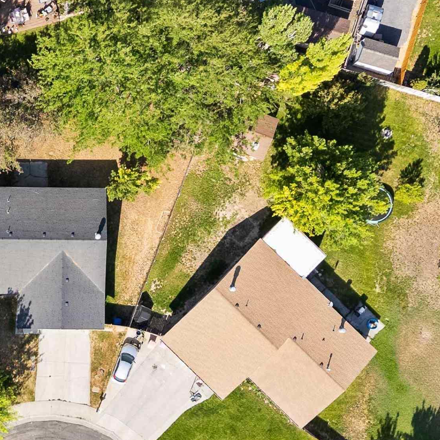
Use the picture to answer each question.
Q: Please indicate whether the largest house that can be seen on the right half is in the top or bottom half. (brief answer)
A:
bottom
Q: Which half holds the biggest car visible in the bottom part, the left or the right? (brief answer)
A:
left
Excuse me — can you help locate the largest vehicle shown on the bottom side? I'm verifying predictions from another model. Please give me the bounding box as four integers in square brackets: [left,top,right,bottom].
[111,336,139,385]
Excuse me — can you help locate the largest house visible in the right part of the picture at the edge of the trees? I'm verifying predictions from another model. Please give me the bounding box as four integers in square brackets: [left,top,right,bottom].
[160,238,377,428]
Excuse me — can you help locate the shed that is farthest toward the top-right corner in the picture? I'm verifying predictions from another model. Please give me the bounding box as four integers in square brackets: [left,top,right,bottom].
[349,38,400,77]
